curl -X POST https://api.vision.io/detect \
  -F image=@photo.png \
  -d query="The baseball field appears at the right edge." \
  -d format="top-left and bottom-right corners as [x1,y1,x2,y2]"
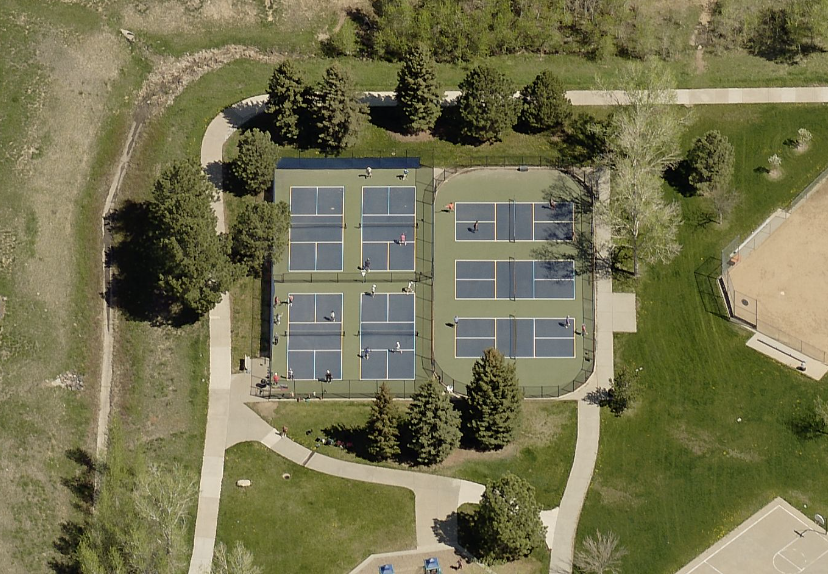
[729,181,828,365]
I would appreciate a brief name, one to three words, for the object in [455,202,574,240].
sports court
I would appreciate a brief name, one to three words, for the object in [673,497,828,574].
basketball court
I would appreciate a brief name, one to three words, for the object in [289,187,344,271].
sports court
